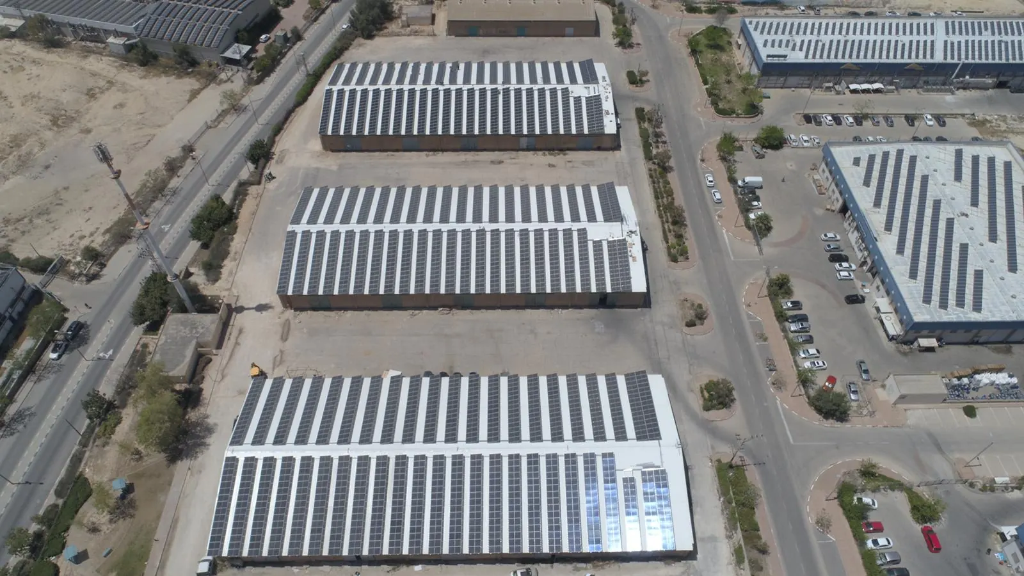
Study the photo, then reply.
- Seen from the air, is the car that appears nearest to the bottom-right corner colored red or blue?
red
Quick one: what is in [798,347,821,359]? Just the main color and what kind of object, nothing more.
white vehicle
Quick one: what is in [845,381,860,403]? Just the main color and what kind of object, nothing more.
gray car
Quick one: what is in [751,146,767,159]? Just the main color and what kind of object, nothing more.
gray vehicle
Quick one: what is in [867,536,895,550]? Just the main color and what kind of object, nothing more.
white car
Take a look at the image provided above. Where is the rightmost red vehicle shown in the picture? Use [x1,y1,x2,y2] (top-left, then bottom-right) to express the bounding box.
[920,526,945,554]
